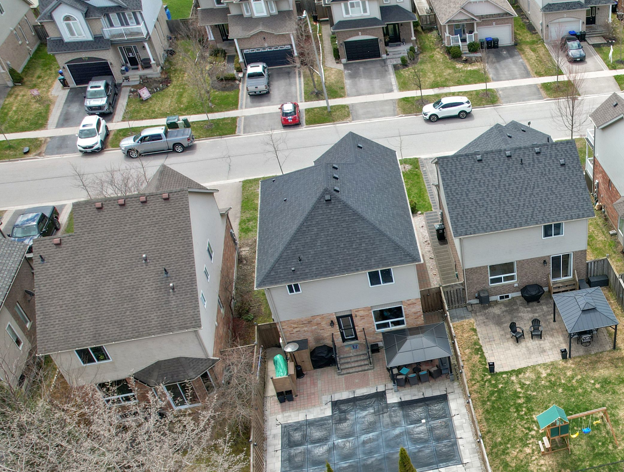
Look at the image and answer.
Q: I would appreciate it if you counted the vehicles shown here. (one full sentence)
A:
Looking from above, you can make out 8 vehicles.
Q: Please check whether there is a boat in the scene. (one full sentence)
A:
No, I can't see a single boat in this photo.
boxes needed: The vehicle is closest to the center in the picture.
[276,98,302,123]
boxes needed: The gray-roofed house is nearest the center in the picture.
[253,131,426,373]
